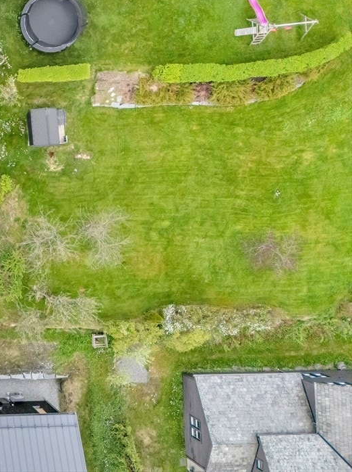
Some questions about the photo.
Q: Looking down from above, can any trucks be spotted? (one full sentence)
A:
No, there isn't any truck down there.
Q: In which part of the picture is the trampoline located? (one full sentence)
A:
The trampoline sits in the top left section of the image.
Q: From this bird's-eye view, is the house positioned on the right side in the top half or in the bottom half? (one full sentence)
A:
The bottom half of the photo is where the house positioned on the right side is.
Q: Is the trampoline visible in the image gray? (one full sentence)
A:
Yes, the trampoline is gray.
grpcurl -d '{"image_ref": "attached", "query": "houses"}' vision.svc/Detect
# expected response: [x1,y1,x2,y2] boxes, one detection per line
[0,400,87,472]
[181,367,352,472]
